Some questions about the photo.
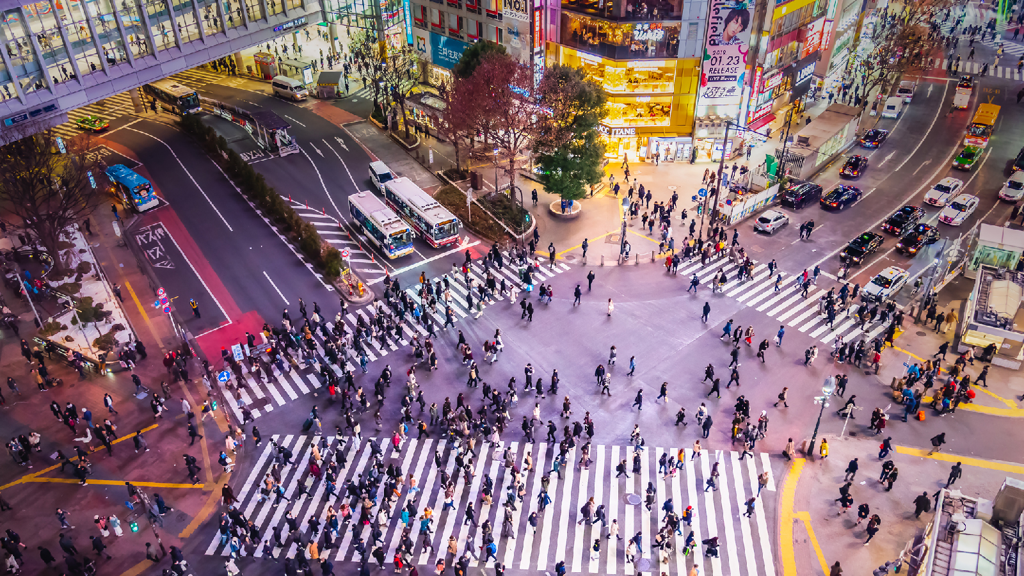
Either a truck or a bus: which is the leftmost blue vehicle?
bus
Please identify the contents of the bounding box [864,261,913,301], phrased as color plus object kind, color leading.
white car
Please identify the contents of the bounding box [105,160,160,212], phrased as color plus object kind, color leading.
blue bus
